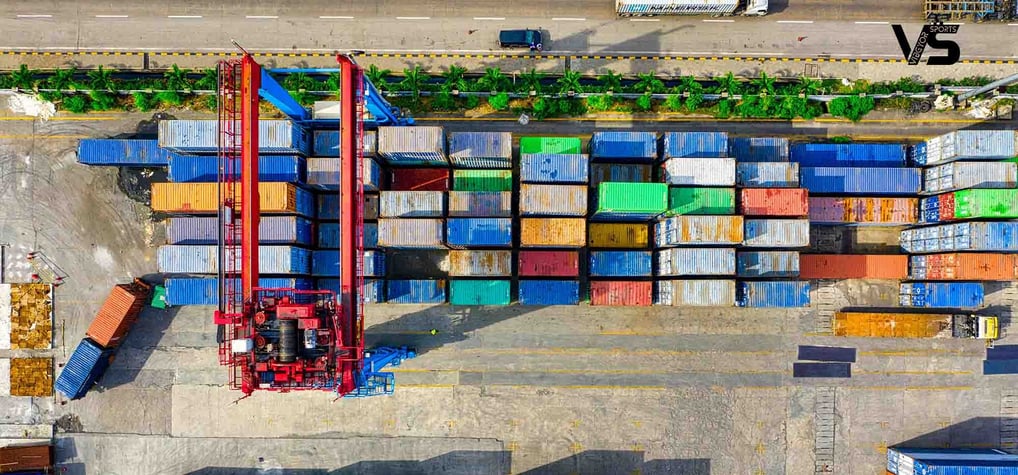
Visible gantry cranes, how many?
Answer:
1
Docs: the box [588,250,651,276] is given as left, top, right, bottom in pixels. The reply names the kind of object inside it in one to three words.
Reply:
shipping container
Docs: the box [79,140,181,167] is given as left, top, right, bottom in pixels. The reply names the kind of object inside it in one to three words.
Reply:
shipping container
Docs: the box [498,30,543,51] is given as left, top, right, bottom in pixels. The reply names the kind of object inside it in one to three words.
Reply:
vehicle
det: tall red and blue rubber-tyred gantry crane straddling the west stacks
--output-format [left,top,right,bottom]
[213,35,424,403]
